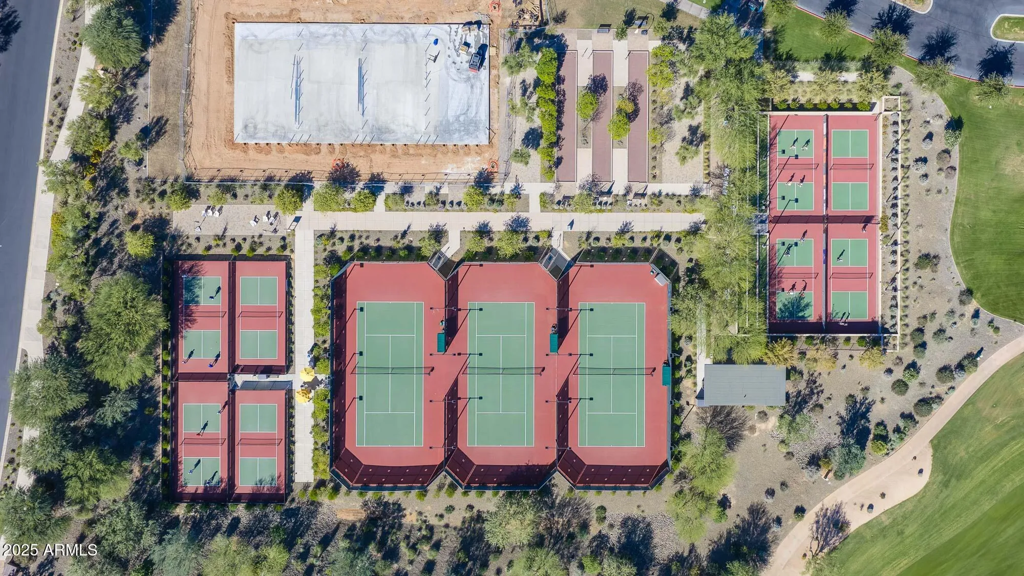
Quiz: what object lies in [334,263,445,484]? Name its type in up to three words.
tennis court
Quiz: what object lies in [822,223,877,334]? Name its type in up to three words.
sports court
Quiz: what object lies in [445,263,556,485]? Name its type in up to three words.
tennis court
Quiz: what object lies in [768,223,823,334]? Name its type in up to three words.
sports court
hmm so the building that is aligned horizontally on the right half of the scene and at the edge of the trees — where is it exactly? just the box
[690,361,786,407]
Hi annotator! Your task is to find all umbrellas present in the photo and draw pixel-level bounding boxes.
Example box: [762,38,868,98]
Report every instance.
[300,367,317,383]
[298,387,311,402]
